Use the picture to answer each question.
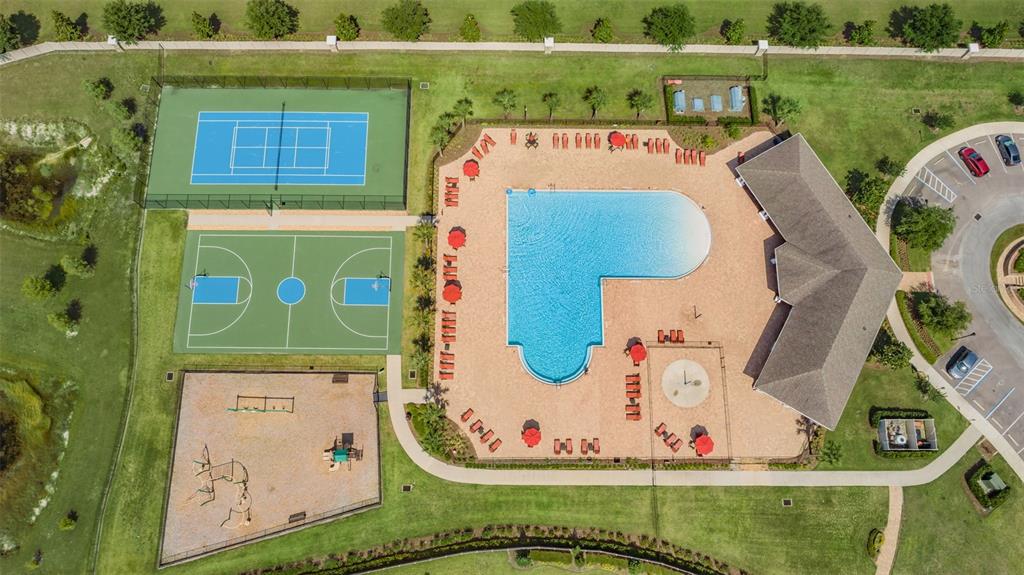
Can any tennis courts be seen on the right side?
No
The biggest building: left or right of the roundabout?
to the left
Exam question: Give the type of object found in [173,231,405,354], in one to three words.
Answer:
basketball court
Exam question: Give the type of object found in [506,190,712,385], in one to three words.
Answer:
swimming pool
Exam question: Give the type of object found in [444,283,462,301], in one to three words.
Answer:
umbrella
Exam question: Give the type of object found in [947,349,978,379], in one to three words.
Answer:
car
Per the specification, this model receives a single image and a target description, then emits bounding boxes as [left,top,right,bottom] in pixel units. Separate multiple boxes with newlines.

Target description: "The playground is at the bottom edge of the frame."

[157,369,384,570]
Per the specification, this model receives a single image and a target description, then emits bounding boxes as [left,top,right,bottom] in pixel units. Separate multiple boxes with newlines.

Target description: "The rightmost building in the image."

[734,133,903,431]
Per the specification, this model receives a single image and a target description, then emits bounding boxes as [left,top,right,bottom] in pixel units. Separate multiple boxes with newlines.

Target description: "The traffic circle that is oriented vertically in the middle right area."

[957,194,1024,355]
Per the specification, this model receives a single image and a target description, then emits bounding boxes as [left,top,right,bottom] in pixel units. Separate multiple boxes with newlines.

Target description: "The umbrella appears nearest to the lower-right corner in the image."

[694,434,714,454]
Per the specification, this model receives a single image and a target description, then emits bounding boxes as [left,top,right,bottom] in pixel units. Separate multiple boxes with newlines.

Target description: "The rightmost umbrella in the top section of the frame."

[608,132,625,148]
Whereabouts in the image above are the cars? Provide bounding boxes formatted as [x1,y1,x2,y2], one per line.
[995,136,1024,166]
[947,349,978,379]
[961,147,994,177]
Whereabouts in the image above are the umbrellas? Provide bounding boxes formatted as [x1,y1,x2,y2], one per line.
[463,160,481,178]
[629,344,647,363]
[522,427,542,446]
[448,230,466,249]
[608,132,625,148]
[694,434,714,454]
[444,283,462,301]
